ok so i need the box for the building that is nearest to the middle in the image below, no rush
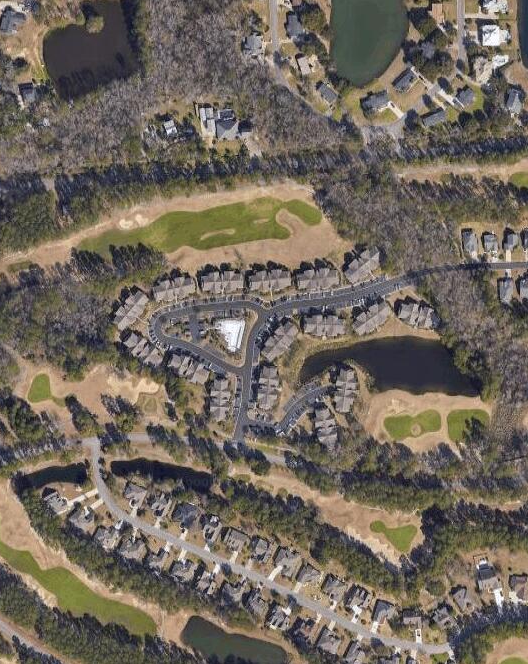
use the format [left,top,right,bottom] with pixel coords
[259,320,299,360]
